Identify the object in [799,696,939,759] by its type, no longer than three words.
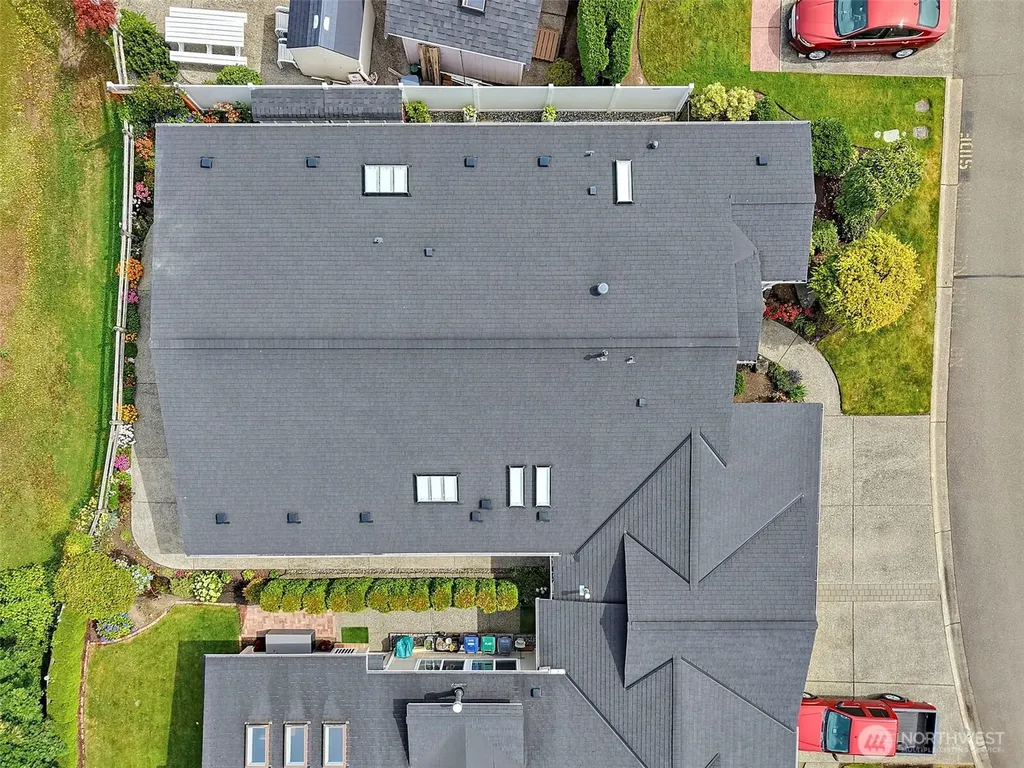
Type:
truck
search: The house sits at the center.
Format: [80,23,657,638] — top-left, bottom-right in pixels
[149,119,824,627]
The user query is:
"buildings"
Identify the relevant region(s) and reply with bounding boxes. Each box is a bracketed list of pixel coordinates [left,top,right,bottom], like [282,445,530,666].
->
[149,119,824,627]
[287,0,370,86]
[386,0,539,86]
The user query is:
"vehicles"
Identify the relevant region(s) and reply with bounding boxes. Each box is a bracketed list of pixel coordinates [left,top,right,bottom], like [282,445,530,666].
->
[799,696,939,759]
[783,0,952,59]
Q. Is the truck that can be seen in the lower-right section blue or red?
red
